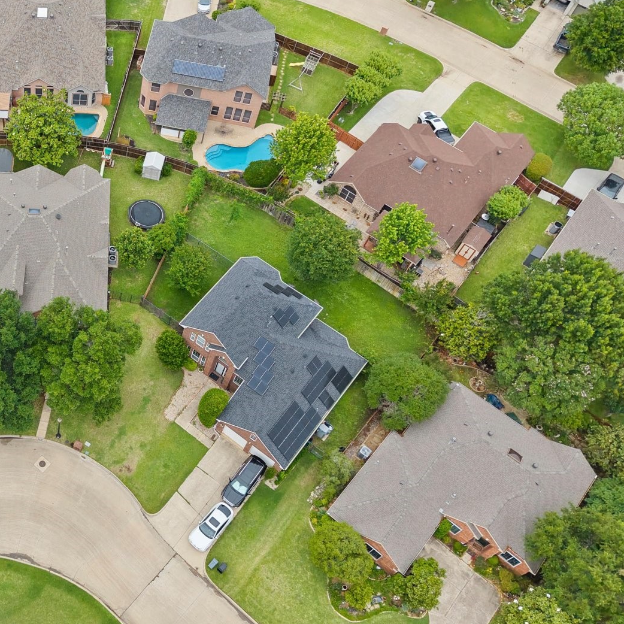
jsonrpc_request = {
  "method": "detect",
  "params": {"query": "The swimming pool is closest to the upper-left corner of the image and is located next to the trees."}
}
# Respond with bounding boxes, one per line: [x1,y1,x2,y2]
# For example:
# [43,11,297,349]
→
[73,110,102,134]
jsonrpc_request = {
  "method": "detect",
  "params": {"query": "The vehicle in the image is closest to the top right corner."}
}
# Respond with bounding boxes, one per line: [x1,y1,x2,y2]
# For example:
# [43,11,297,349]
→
[552,17,580,52]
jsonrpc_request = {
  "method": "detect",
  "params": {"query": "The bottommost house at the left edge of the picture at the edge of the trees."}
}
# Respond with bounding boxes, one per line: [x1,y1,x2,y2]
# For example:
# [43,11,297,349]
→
[0,150,110,326]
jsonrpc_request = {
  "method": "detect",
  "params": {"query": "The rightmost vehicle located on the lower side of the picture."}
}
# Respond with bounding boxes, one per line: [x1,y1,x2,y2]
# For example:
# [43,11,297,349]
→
[220,453,271,507]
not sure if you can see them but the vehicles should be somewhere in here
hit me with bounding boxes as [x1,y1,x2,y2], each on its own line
[552,17,580,52]
[413,110,460,145]
[196,0,214,16]
[598,171,624,201]
[220,453,271,507]
[188,499,240,556]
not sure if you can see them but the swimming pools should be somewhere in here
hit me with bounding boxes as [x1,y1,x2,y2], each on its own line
[73,110,102,134]
[204,132,281,172]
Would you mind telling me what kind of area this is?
residential area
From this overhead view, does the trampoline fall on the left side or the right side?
left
